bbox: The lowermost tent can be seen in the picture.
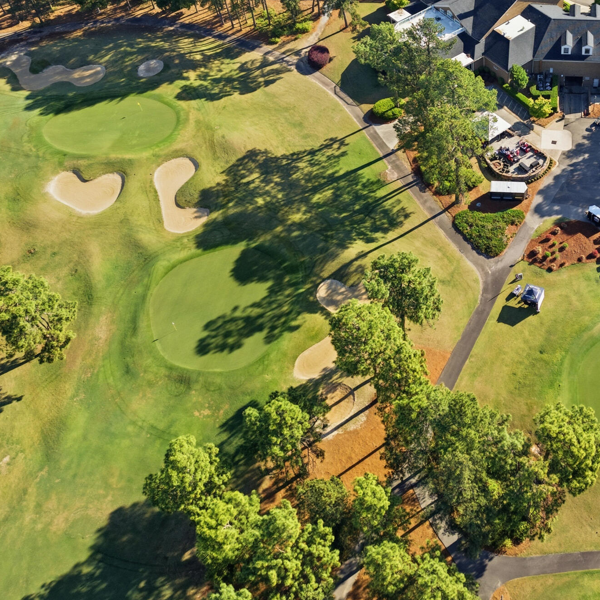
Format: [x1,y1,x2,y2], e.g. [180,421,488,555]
[520,284,544,312]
